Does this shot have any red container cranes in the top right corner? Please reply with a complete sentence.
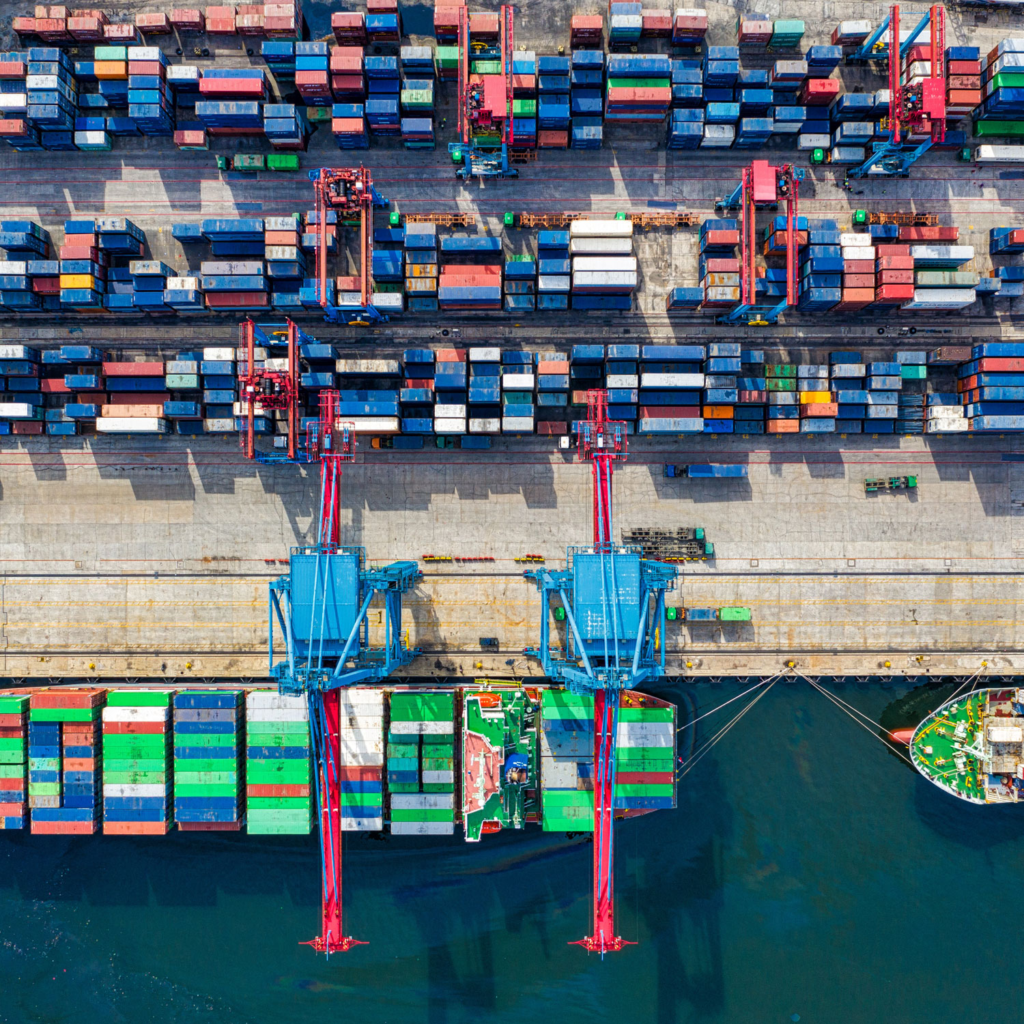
Yes, a red container crane is visible in the top right corner.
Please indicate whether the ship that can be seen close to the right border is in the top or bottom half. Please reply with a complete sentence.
Seen from above, the ship that can be seen close to the right border lies in the bottom half of the view.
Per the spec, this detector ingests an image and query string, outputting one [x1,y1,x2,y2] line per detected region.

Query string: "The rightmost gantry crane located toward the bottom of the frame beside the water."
[523,388,675,970]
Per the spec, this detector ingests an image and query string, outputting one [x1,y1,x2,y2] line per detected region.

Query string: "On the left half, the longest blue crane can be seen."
[264,389,425,970]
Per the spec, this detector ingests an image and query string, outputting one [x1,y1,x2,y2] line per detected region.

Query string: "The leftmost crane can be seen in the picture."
[235,320,321,469]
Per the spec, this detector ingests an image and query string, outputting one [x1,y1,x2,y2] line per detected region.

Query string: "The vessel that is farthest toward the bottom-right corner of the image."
[893,682,1024,804]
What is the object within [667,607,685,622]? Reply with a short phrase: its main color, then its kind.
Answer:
green vehicle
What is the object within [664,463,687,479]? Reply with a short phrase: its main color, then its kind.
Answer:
blue vehicle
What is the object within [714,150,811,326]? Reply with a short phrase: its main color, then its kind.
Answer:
red container crane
